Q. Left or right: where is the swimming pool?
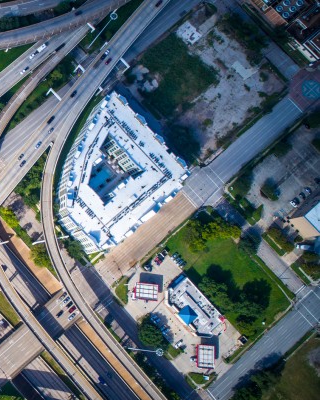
left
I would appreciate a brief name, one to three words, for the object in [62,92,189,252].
building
